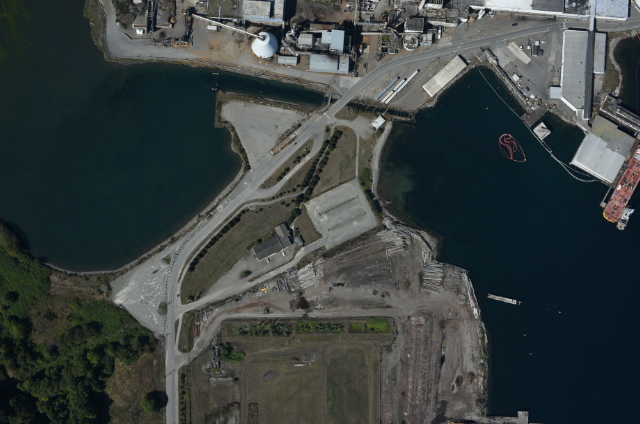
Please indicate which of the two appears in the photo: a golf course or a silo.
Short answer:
silo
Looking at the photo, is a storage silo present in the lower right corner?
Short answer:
No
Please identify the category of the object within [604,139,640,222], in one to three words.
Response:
ship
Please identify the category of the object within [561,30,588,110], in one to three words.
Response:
building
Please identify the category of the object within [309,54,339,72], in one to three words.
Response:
building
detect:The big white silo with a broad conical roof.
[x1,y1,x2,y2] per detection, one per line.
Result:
[252,33,279,60]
